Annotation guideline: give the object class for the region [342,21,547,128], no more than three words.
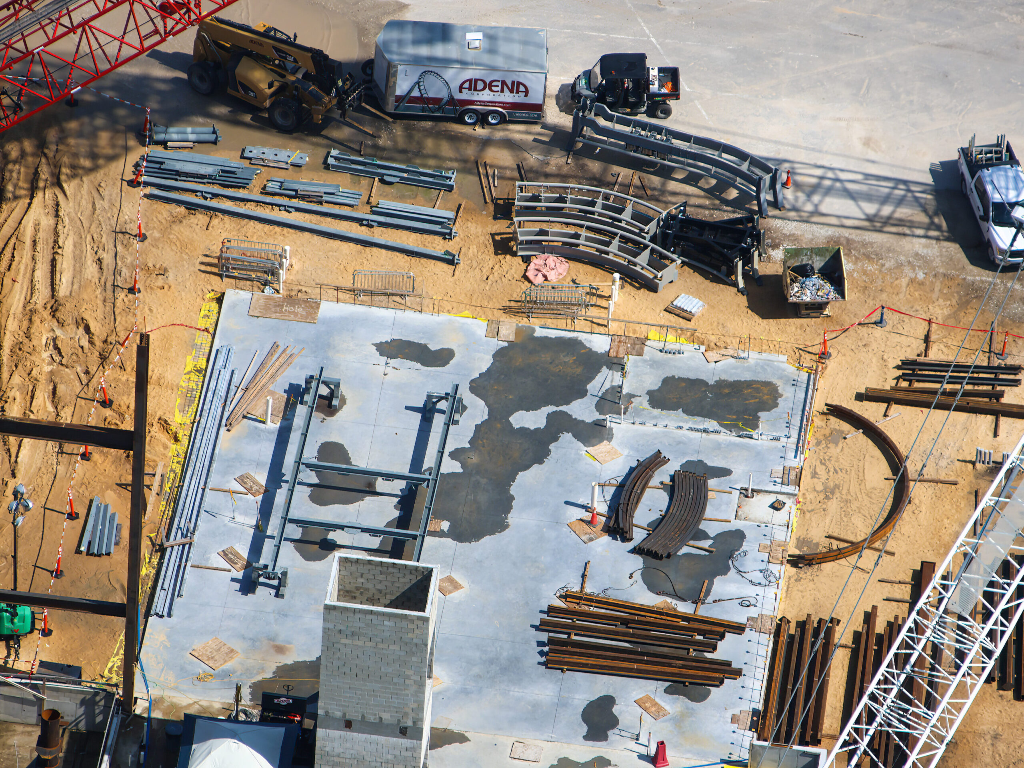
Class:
trailer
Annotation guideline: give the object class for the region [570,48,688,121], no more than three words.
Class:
vehicle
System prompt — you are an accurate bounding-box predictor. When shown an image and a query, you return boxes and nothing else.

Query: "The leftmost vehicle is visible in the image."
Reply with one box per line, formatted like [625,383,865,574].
[176,10,382,154]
